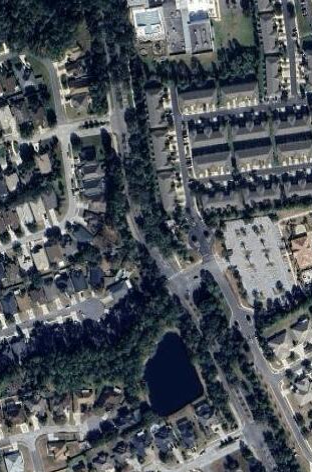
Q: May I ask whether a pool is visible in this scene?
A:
Yes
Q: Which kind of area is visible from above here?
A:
residential area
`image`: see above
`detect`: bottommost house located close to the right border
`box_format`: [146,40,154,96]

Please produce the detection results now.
[290,371,312,404]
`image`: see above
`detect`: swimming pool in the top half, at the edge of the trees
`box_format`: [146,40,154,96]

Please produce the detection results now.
[135,7,166,42]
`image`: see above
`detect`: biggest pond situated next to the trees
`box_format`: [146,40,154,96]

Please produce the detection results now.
[144,332,203,415]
